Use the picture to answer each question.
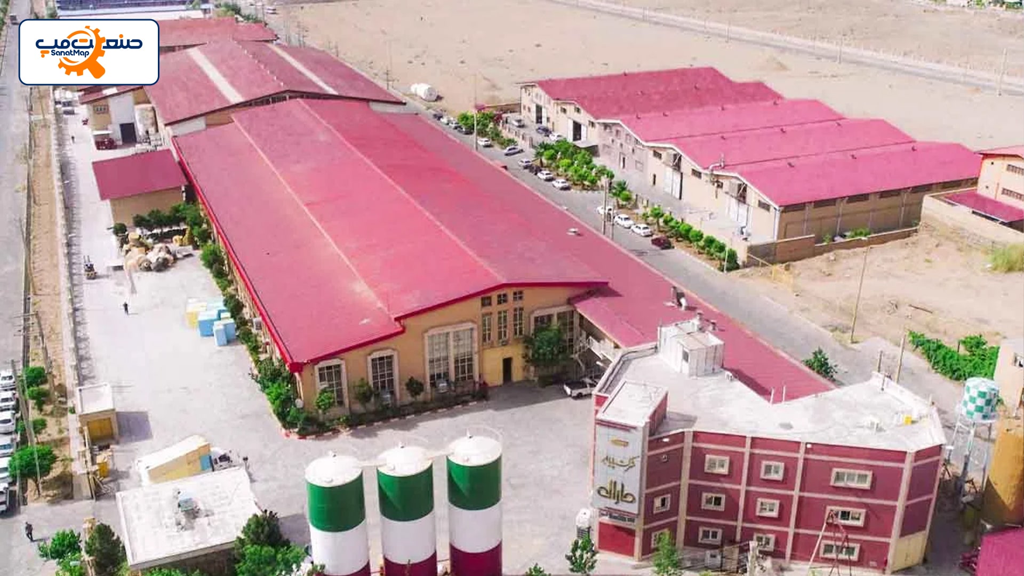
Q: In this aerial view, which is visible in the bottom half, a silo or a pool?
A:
silo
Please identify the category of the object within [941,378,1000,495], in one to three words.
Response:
water tower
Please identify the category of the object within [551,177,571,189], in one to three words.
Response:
vehicle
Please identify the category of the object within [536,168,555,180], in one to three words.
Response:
vehicle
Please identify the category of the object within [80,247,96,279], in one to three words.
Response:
work vehicle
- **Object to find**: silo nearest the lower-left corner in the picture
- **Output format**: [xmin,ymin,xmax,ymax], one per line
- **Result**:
[306,450,369,576]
